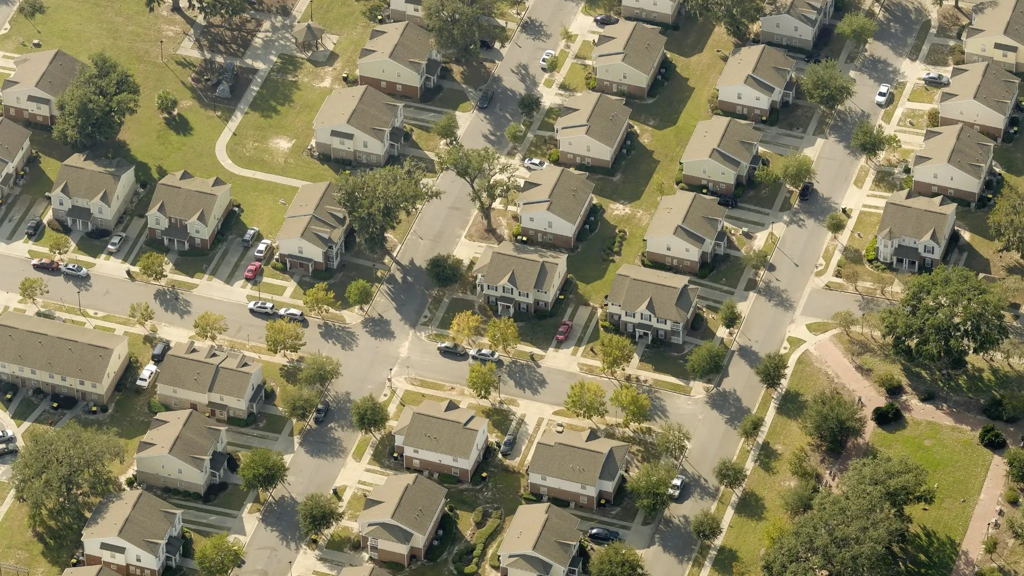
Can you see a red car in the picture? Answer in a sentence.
Yes, the image includes a red car.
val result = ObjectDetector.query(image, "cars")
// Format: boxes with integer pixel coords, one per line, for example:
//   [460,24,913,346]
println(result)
[241,228,259,248]
[556,322,573,342]
[138,366,156,387]
[247,301,276,316]
[521,157,550,171]
[501,434,518,455]
[923,73,951,86]
[715,194,742,209]
[245,262,262,281]
[437,342,466,357]
[0,444,22,459]
[31,258,59,272]
[107,233,125,253]
[540,50,555,69]
[60,264,88,279]
[798,180,814,201]
[254,240,272,260]
[669,476,685,498]
[805,53,832,65]
[876,85,891,105]
[313,401,330,423]
[26,217,43,237]
[588,525,618,543]
[478,89,493,108]
[592,14,620,25]
[277,307,306,323]
[151,341,170,363]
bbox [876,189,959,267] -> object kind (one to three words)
house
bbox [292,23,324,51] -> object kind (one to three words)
gazebo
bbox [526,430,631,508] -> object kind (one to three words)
house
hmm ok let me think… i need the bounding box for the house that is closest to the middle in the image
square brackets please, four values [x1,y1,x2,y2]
[472,241,570,317]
